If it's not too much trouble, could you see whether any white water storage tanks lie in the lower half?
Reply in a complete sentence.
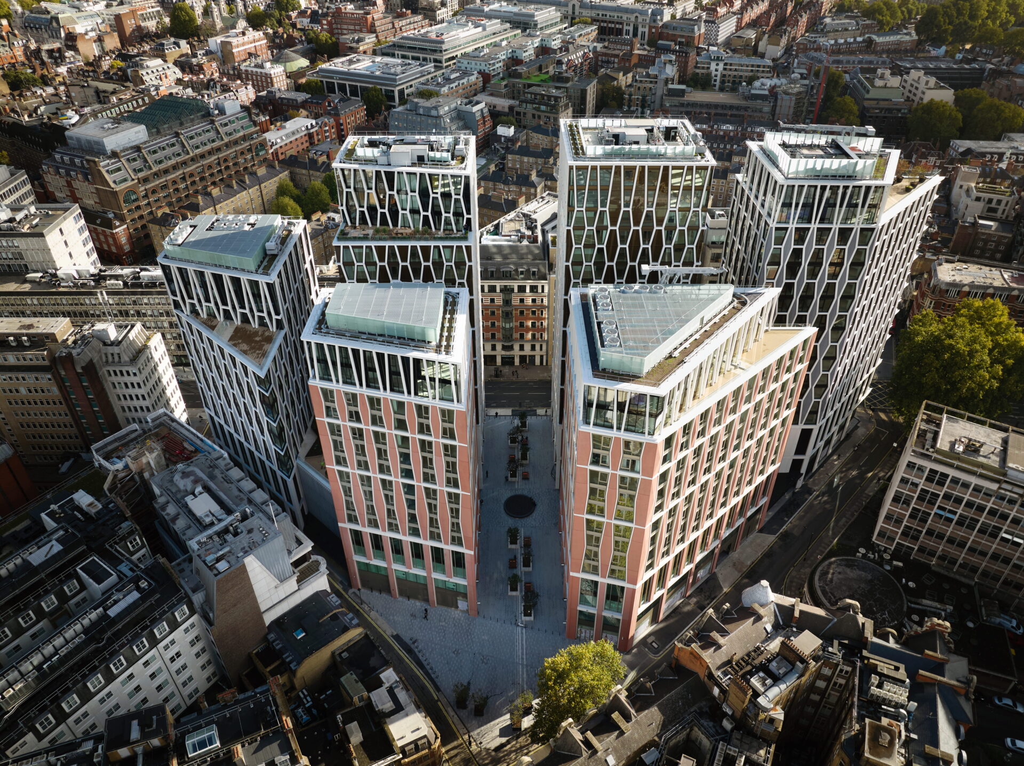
No, looking in the lower half, there is no white water storage tank.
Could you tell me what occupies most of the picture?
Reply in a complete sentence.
The largest share of the image is taken up by buildings.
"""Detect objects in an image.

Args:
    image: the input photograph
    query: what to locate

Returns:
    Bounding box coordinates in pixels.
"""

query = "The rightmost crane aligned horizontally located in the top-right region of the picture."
[780,121,876,156]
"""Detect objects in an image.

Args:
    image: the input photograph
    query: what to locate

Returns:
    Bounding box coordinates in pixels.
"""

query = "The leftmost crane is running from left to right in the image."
[638,262,725,276]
